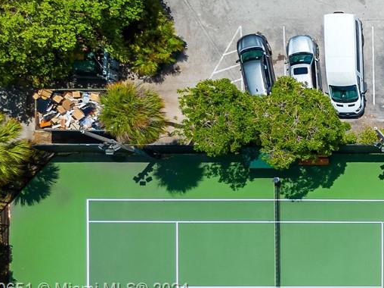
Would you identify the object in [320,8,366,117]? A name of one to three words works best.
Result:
vehicle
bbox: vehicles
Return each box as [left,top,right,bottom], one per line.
[235,28,280,104]
[320,8,366,117]
[282,31,321,108]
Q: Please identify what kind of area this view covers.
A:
sports ground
